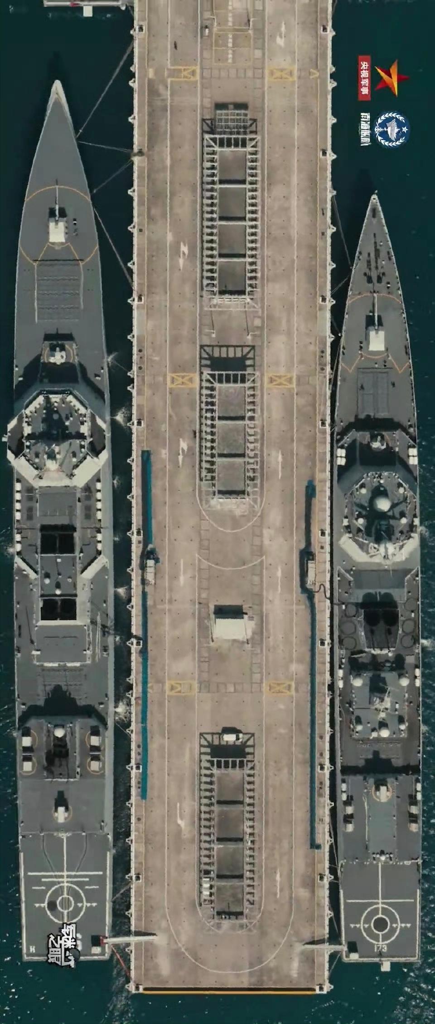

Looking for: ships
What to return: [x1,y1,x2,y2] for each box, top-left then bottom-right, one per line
[334,190,426,970]
[44,0,134,18]
[1,81,114,961]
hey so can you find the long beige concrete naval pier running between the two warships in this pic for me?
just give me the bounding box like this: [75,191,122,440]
[131,0,332,993]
